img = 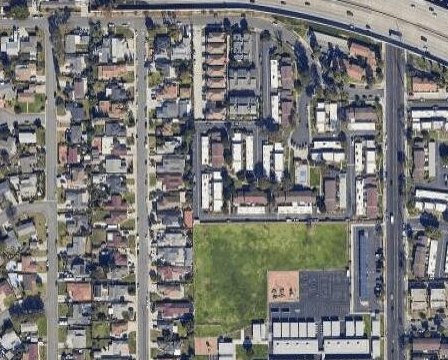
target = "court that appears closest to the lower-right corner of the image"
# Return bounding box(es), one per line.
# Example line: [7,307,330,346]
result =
[299,271,350,313]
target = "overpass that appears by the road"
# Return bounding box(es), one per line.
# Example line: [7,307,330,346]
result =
[380,0,409,51]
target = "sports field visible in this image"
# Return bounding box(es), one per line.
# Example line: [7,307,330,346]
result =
[194,223,349,338]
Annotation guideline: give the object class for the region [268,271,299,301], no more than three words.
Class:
playground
